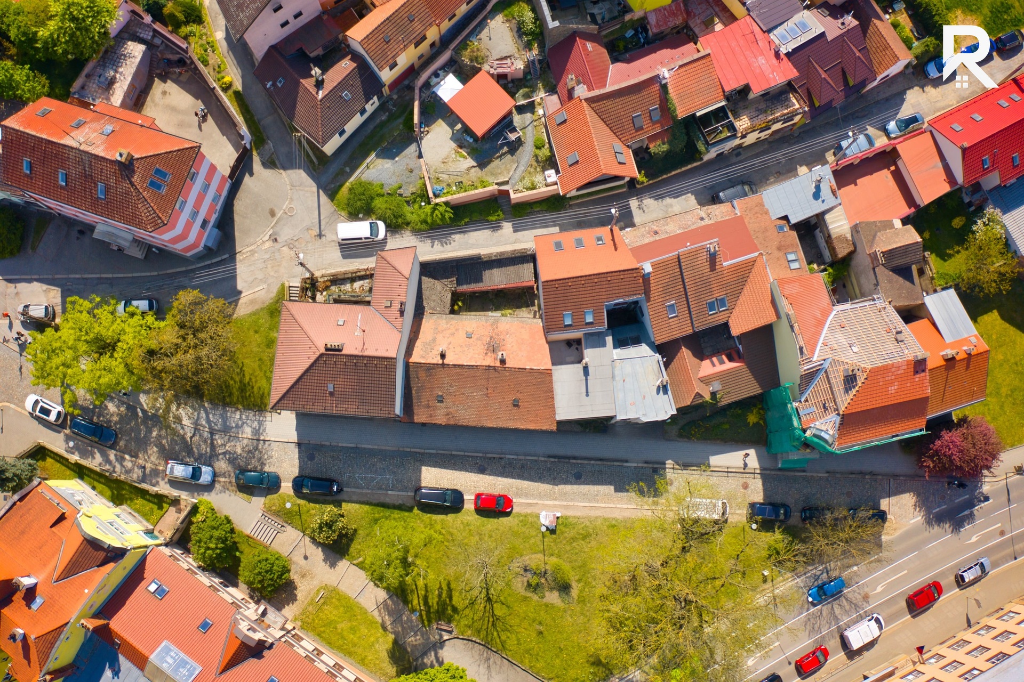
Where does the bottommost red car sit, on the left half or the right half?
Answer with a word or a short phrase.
right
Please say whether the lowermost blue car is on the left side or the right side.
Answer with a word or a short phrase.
right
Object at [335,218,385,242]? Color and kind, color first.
white vehicle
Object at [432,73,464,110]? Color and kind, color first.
white tent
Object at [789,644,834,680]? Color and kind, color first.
red car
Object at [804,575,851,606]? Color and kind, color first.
blue car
